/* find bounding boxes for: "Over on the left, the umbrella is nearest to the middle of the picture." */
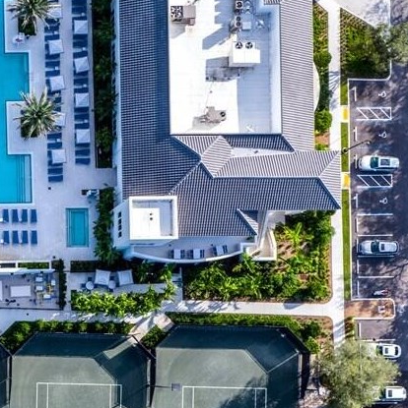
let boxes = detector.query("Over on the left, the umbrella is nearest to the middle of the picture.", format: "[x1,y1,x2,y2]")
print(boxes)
[115,270,132,286]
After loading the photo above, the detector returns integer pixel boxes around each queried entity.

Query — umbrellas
[76,129,91,144]
[115,270,132,286]
[94,269,110,286]
[47,39,64,55]
[73,20,89,36]
[51,149,66,165]
[74,57,91,75]
[48,76,65,92]
[47,4,62,19]
[75,94,90,109]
